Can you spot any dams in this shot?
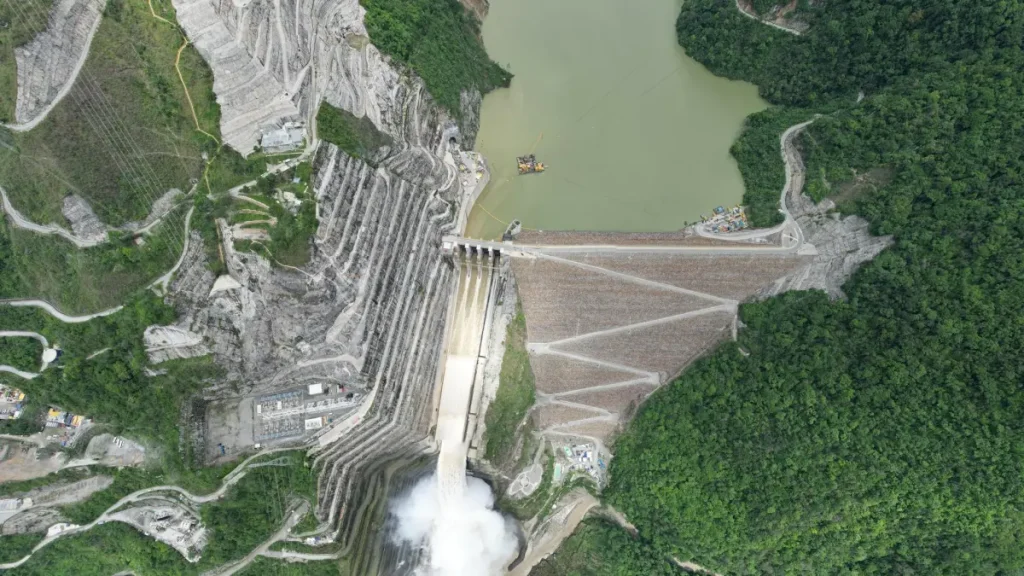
Yes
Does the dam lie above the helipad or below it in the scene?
above it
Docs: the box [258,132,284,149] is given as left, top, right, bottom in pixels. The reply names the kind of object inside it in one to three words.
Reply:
building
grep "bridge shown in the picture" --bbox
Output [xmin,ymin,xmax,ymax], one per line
[441,237,514,253]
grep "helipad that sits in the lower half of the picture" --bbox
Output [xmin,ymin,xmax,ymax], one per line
[509,463,544,495]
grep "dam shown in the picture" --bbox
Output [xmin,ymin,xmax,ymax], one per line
[504,238,803,442]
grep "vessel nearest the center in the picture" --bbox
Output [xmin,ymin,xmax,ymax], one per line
[516,136,546,173]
